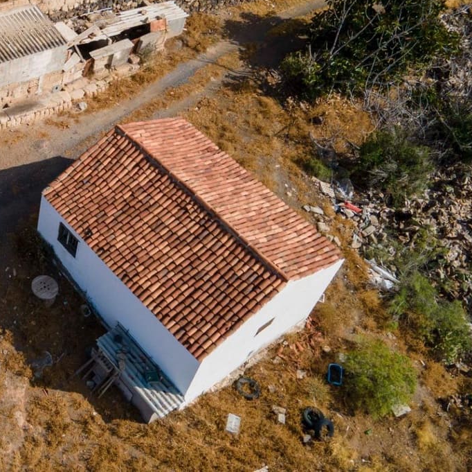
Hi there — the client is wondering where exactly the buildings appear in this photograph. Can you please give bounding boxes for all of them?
[0,1,74,106]
[65,0,196,80]
[36,116,348,405]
